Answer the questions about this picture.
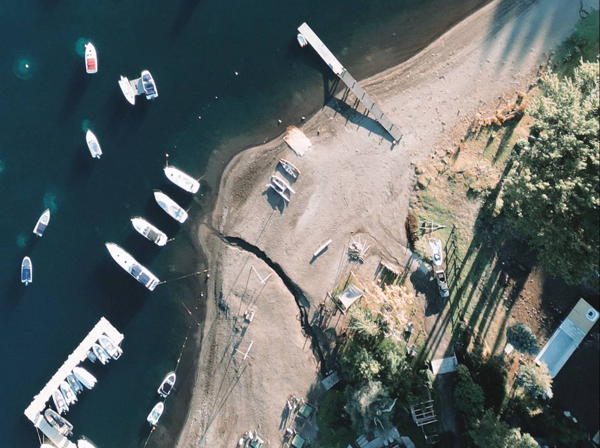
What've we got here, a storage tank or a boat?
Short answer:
boat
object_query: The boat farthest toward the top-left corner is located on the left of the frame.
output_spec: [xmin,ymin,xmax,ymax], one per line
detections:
[85,41,98,76]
